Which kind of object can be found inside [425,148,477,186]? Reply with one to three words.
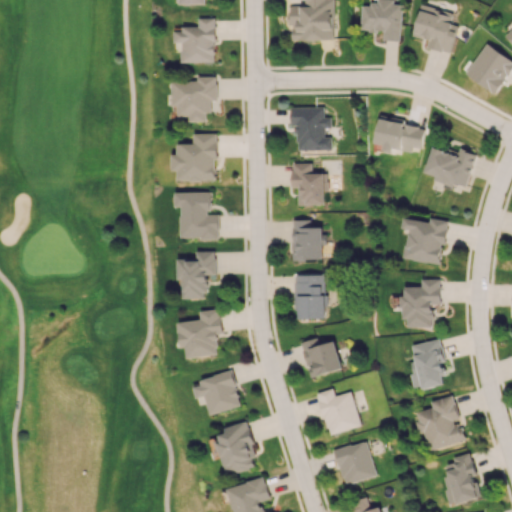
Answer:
house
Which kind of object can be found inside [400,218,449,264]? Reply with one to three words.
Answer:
house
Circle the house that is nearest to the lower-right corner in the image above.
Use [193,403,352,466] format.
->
[446,453,482,507]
